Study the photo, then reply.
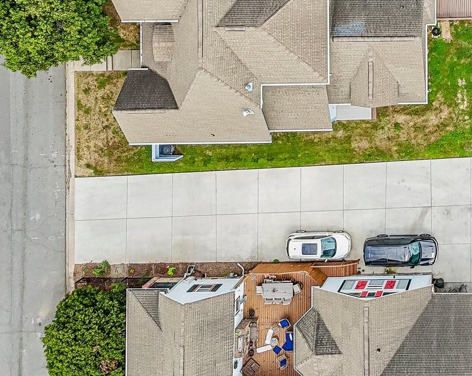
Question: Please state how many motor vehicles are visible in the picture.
2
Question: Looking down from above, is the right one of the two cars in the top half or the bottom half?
bottom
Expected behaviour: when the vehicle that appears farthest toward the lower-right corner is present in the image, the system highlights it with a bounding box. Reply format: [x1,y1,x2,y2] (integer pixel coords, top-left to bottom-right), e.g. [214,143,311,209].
[363,236,436,273]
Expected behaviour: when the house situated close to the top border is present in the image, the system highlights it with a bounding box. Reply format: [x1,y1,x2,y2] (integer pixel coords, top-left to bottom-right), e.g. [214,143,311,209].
[111,0,437,148]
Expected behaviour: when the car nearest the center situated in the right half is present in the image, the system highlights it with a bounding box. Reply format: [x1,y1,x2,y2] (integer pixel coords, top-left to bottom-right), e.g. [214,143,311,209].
[284,231,348,264]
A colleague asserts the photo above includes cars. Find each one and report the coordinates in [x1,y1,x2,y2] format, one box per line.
[363,236,436,273]
[284,231,348,264]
